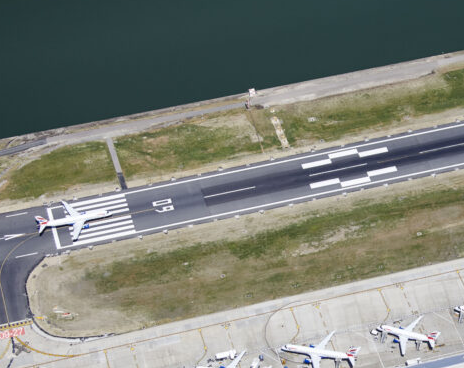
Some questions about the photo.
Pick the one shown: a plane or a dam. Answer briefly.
plane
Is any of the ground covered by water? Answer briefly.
Yes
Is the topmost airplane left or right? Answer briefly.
left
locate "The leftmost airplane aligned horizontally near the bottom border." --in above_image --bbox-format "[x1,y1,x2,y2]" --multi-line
[279,330,361,368]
